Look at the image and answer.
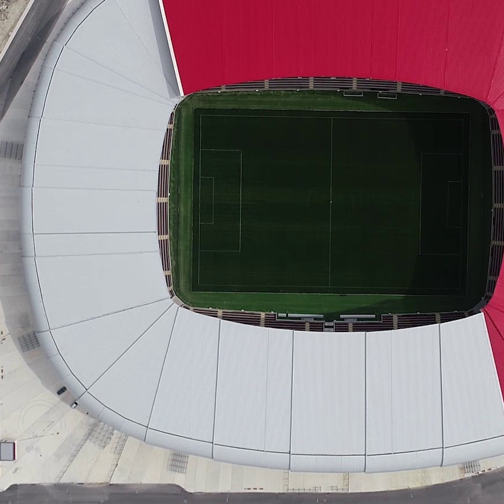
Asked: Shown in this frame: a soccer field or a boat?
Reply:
soccer field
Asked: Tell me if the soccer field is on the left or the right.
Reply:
right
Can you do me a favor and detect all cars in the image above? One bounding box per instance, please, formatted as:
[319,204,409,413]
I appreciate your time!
[55,387,67,395]
[70,399,78,410]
